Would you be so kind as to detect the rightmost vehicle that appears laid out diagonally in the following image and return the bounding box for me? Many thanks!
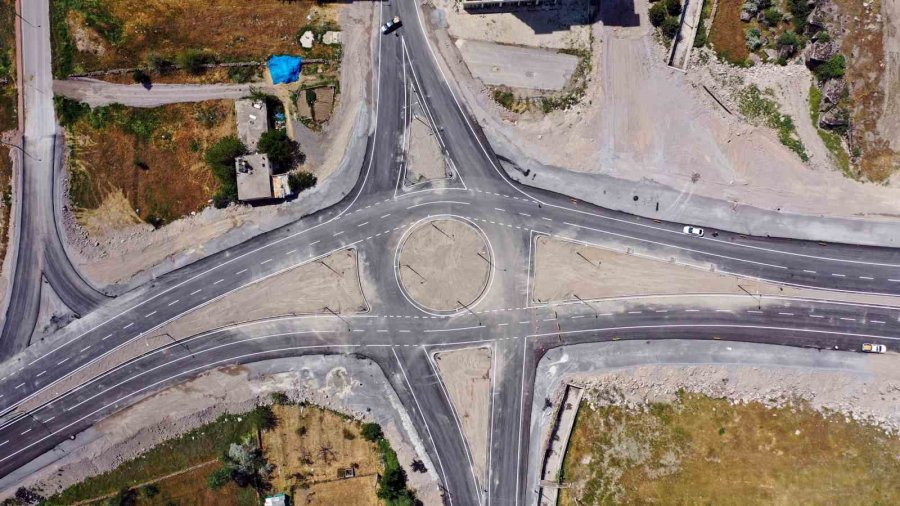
[380,13,403,33]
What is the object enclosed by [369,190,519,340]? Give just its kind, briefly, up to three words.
roundabout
